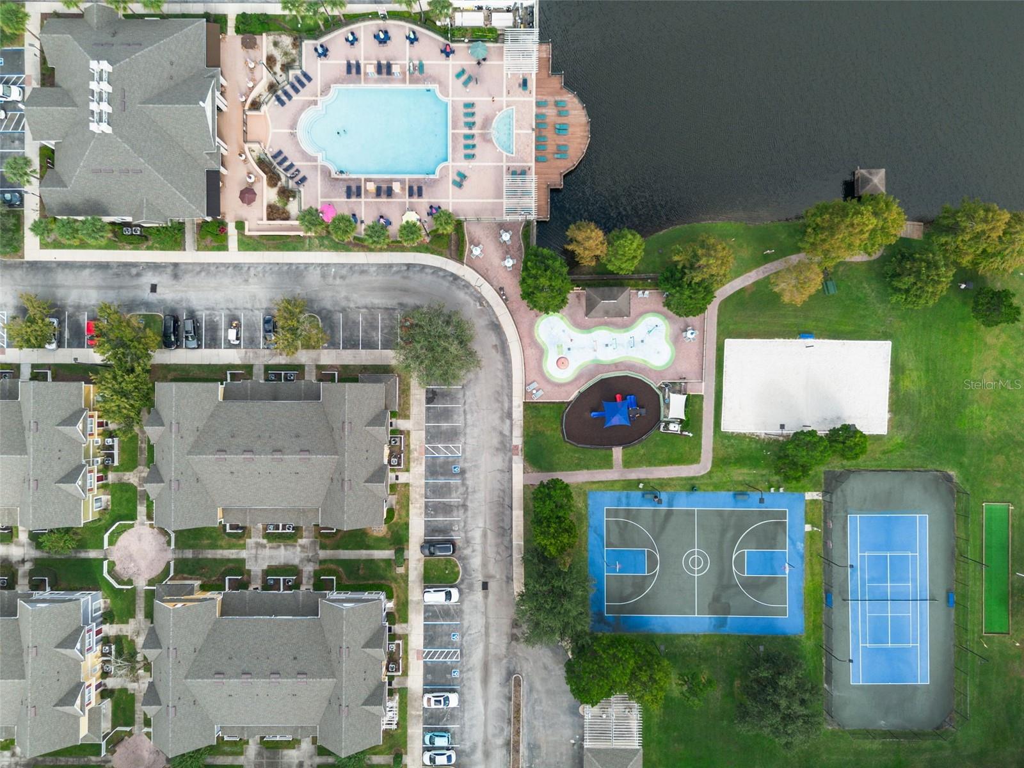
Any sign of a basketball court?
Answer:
Yes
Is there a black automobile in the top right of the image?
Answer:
No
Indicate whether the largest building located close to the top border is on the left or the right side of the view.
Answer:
left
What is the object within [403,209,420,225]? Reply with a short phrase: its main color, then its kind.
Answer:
white umbrella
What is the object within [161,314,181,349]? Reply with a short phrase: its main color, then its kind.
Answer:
black car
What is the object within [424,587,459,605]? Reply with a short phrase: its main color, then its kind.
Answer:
white car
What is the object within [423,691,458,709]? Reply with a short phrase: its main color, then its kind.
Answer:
white car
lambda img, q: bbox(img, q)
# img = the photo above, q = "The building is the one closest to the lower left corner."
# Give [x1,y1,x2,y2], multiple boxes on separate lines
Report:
[0,590,112,757]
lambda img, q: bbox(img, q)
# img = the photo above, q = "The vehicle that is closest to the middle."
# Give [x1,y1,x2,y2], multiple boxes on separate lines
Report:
[420,541,455,558]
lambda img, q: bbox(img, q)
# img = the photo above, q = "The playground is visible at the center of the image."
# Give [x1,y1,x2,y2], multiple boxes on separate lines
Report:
[561,369,664,449]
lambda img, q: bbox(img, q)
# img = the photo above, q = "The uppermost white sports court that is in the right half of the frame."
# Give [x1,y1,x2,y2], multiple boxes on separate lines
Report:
[721,339,892,435]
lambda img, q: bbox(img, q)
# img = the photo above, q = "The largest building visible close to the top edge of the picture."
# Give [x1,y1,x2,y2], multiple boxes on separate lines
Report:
[15,6,229,230]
